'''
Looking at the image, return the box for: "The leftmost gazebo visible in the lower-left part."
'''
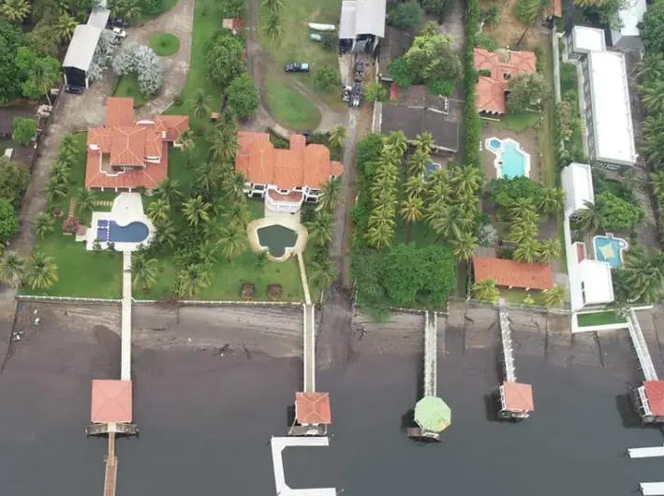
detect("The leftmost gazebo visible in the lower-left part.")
[91,379,133,425]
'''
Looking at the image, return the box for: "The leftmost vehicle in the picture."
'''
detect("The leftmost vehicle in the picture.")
[67,73,81,91]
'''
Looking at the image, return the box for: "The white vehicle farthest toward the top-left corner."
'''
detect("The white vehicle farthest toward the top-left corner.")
[110,24,130,38]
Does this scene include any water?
Yes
